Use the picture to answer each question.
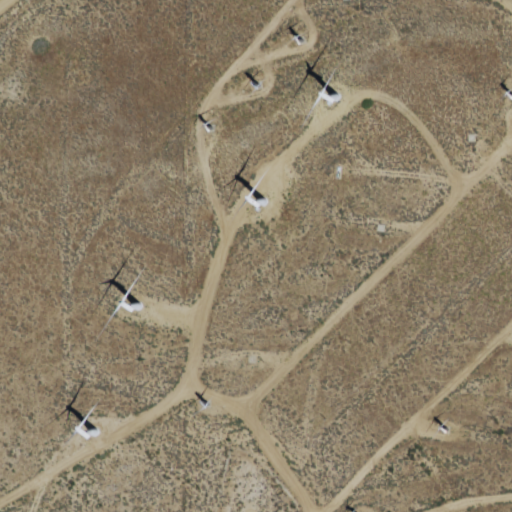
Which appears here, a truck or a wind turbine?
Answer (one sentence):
Visible in the photo is a wind turbine.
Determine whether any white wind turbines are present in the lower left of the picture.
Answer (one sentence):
Yes, I can see a white wind turbine in the lower left of the picture.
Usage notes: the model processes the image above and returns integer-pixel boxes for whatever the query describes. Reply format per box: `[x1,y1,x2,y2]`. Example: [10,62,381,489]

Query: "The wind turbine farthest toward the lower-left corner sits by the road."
[56,406,100,450]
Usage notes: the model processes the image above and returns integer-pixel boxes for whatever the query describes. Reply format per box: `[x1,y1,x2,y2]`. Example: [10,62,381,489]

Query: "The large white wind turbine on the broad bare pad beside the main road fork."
[228,168,268,214]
